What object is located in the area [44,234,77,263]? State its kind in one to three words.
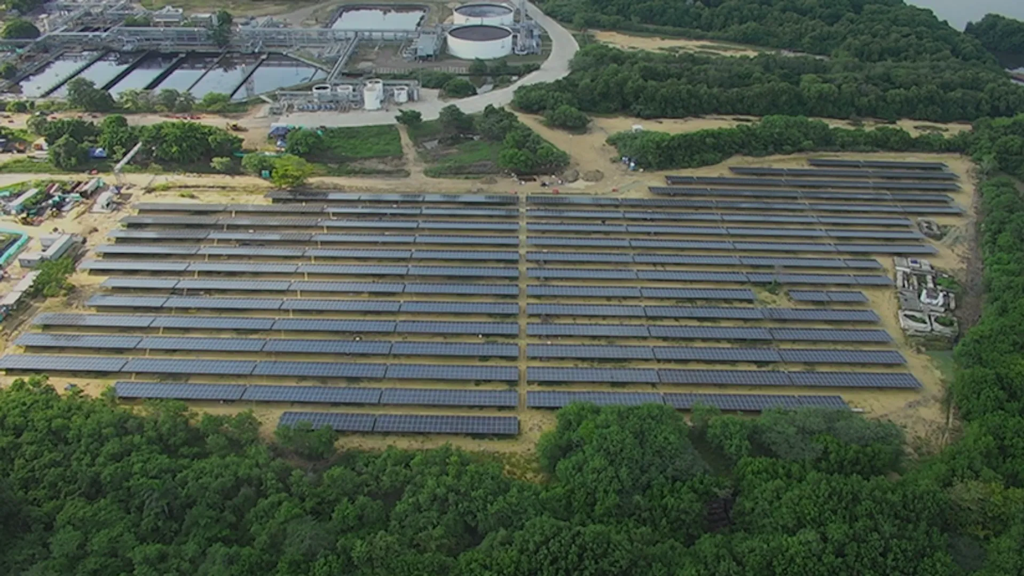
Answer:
building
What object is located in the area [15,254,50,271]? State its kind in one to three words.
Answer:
building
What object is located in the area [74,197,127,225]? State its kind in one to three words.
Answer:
shed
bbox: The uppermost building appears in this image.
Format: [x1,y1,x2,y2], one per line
[418,35,437,64]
